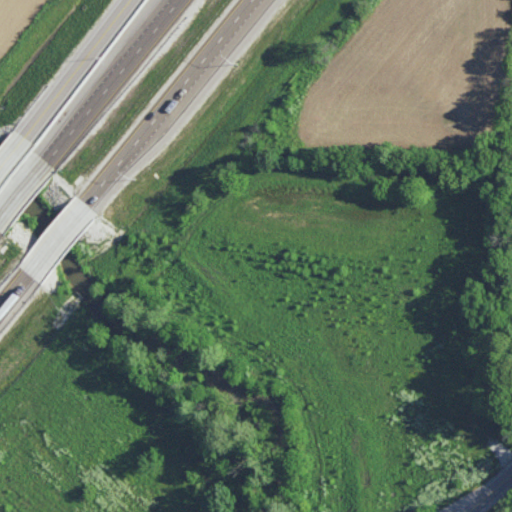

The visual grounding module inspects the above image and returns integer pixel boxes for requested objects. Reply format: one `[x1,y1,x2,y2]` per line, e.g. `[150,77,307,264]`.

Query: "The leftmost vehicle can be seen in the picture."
[0,286,26,321]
